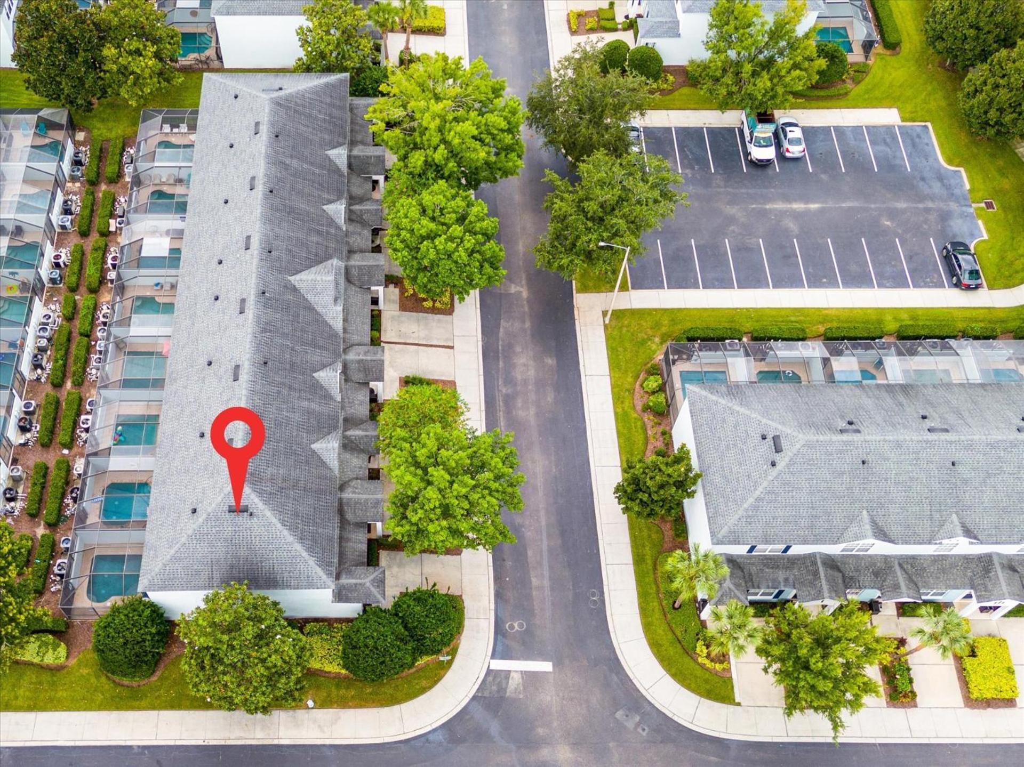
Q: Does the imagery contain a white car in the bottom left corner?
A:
No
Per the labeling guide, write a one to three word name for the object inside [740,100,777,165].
truck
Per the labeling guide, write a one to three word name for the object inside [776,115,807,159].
car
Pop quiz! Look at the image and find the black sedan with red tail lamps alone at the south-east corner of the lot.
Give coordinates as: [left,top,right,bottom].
[941,240,980,291]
